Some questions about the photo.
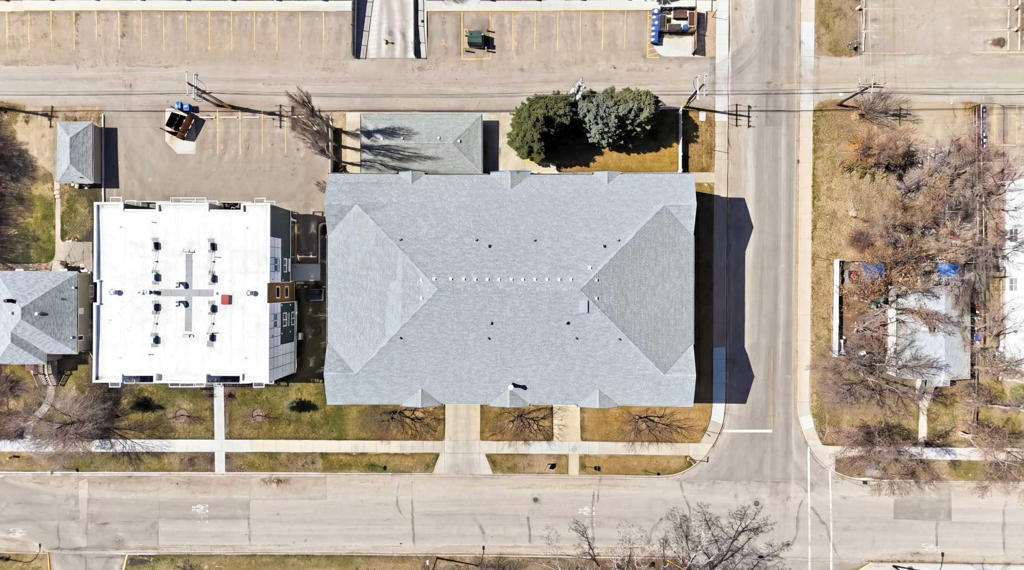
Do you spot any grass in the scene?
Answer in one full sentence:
Yes, grass can be seen from above here.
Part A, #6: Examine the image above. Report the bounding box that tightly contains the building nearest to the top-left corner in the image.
[57,121,101,183]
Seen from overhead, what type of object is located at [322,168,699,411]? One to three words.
building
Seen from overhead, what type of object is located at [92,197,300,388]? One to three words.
building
